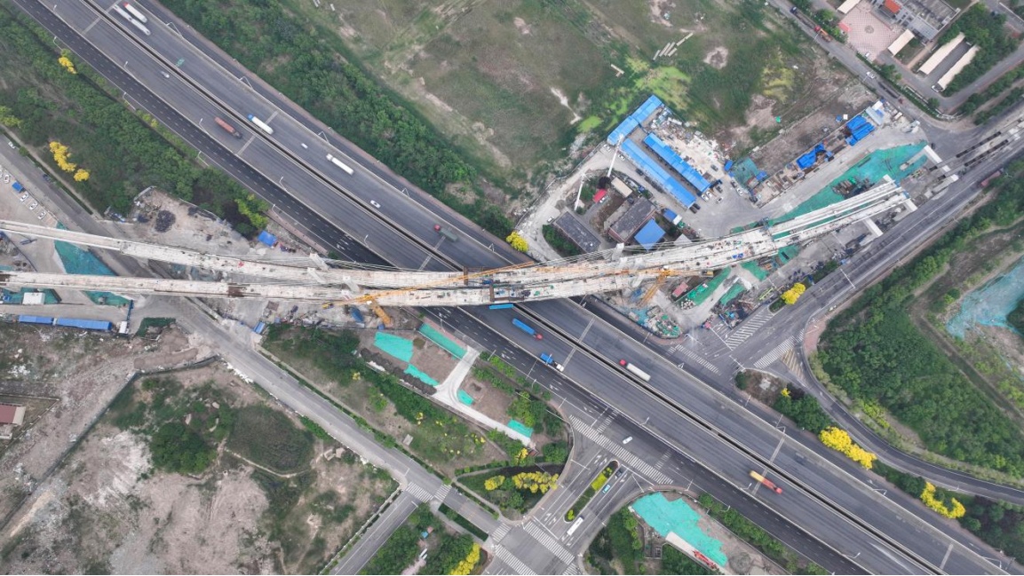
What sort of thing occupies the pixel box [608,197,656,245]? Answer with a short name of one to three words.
building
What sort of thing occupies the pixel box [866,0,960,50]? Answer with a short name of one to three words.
building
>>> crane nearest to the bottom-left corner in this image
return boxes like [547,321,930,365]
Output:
[324,258,533,331]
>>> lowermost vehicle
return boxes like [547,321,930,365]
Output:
[566,515,585,535]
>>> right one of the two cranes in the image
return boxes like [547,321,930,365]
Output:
[536,264,714,313]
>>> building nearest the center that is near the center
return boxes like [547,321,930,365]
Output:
[553,211,601,257]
